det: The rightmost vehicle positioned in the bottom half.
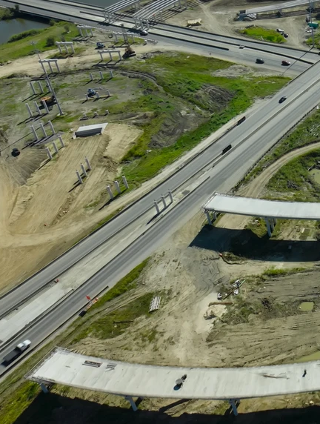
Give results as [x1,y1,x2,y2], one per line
[7,335,32,354]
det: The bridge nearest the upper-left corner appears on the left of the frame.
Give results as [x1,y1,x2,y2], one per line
[28,0,88,26]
